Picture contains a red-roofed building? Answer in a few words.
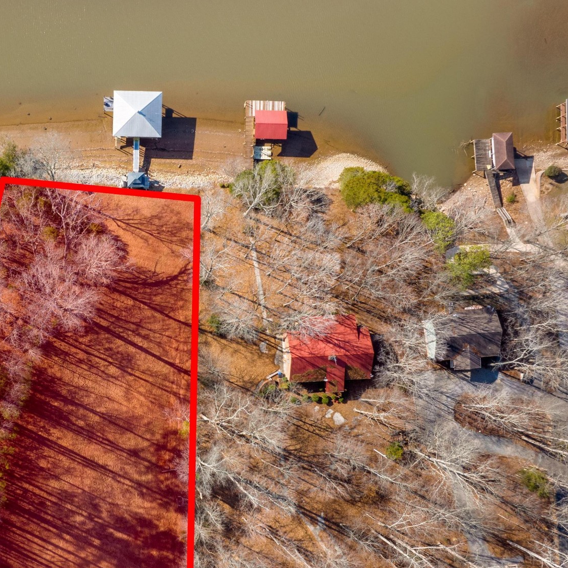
Yes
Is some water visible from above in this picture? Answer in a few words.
Yes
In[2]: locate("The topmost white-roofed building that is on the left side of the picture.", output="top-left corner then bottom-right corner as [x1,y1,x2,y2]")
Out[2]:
[103,91,163,141]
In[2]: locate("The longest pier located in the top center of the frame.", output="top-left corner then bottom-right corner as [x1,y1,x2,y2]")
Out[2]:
[243,100,286,169]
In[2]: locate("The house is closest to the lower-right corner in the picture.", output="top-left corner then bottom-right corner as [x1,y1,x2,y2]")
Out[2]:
[428,303,503,370]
